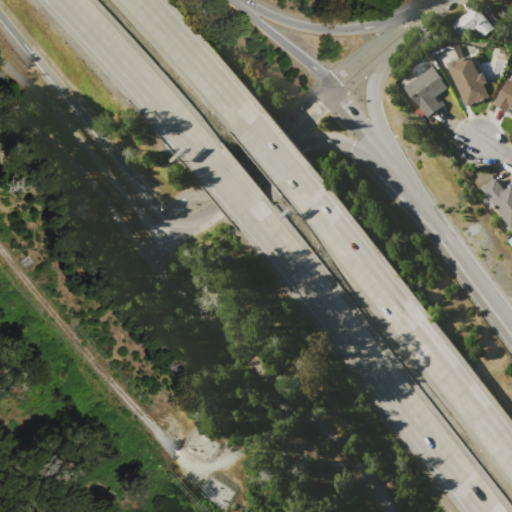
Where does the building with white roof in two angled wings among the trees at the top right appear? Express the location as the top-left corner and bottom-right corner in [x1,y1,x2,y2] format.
[458,9,492,36]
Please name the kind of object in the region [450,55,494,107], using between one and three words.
house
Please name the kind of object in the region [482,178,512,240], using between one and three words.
house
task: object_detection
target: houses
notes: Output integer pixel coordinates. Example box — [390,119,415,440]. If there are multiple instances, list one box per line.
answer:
[458,9,492,36]
[496,79,512,115]
[482,178,512,240]
[450,55,494,107]
[404,66,448,118]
